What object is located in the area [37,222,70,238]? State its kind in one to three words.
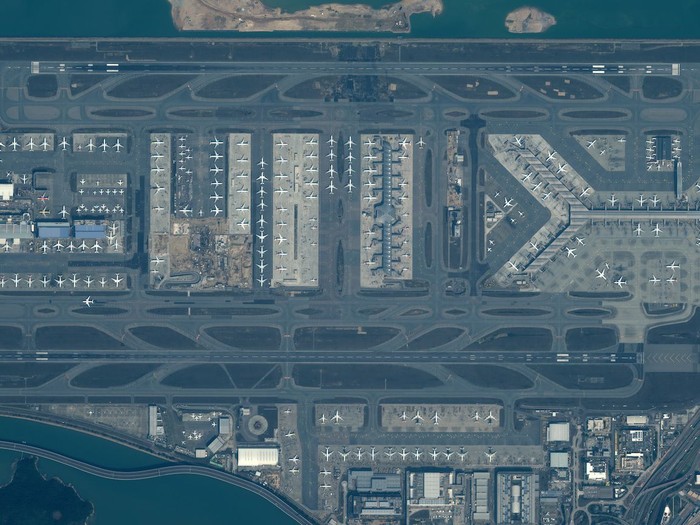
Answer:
hangar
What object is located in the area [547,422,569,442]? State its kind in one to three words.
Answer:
hangar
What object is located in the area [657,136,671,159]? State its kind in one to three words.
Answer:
building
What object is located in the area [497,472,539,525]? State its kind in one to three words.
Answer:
building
